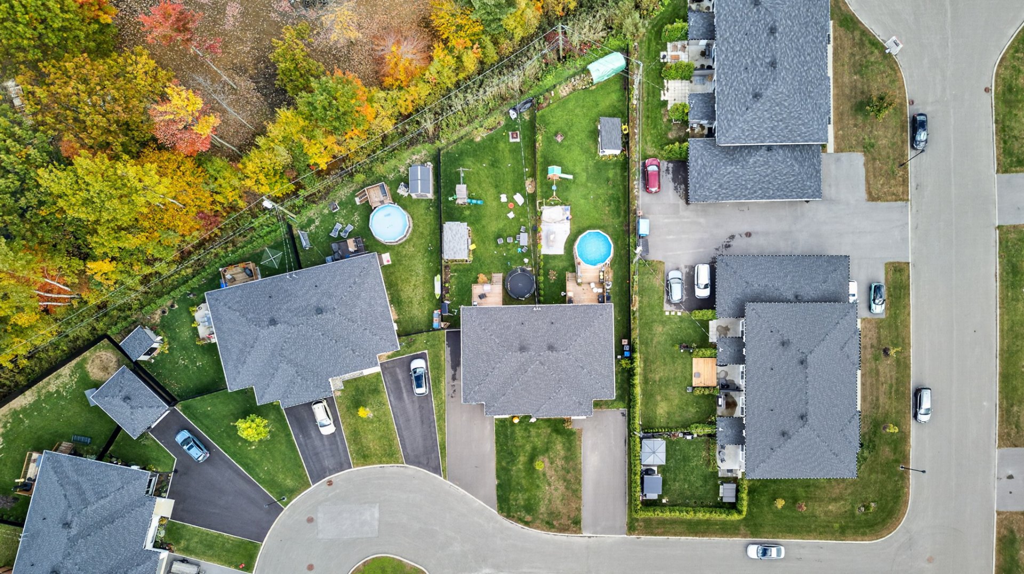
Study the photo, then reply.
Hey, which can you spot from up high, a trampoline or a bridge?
trampoline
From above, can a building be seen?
Yes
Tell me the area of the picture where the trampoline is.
center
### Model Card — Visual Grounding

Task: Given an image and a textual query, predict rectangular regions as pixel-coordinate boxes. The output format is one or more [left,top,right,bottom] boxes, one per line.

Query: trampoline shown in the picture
[506,267,535,298]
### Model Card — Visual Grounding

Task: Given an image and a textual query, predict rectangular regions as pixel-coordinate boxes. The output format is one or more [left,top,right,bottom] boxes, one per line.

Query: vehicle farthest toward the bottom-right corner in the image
[912,387,934,423]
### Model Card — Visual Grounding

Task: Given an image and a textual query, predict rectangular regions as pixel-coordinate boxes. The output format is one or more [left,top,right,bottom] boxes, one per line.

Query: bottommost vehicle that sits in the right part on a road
[746,543,785,562]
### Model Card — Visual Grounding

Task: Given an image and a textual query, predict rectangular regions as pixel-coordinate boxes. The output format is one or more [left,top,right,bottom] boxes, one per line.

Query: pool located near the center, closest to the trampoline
[575,229,613,267]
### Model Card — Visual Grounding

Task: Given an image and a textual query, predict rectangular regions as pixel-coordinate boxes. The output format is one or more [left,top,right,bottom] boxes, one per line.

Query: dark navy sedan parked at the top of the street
[909,112,930,151]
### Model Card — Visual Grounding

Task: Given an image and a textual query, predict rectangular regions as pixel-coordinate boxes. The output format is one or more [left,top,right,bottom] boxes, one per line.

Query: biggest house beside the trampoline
[461,304,616,417]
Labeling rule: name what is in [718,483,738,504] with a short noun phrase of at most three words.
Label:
gazebo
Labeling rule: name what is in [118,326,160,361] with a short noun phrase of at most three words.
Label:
shed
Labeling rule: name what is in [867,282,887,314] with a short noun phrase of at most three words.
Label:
car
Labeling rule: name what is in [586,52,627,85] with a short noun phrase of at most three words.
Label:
greenhouse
